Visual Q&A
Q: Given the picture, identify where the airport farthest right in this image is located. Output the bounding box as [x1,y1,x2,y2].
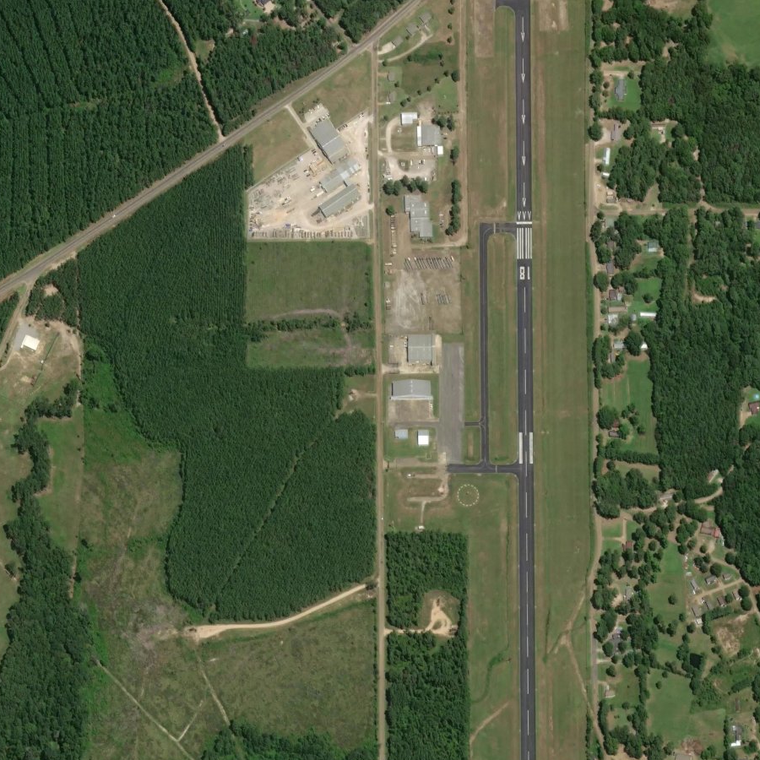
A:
[388,0,537,760]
